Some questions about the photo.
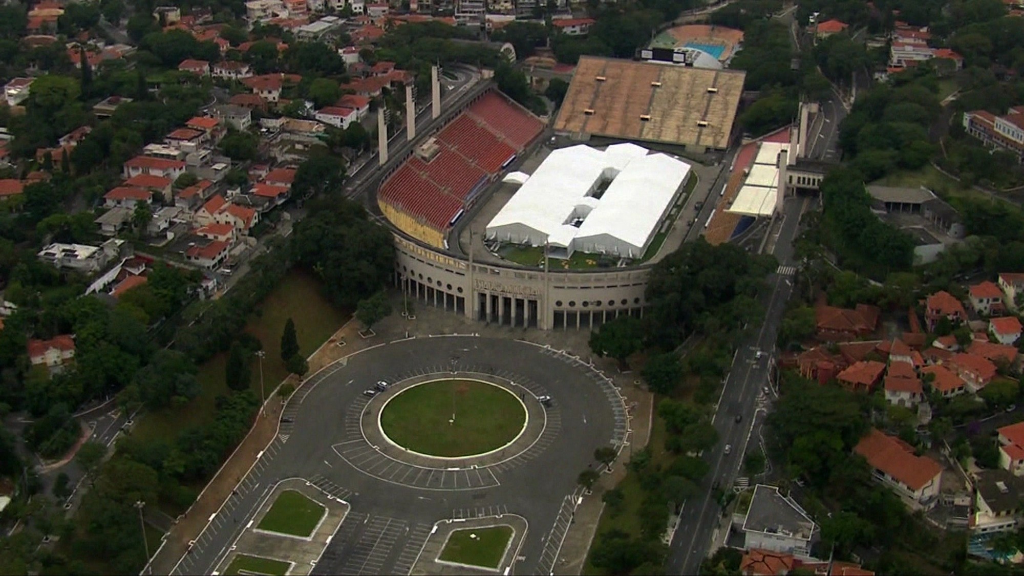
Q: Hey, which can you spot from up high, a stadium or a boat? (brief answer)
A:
stadium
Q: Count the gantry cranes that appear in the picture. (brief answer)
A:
0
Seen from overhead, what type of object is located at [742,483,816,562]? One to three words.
building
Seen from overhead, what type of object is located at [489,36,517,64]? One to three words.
building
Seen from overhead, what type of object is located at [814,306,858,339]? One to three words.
house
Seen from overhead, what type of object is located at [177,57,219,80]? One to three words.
house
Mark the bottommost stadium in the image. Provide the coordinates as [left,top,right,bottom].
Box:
[378,198,734,332]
